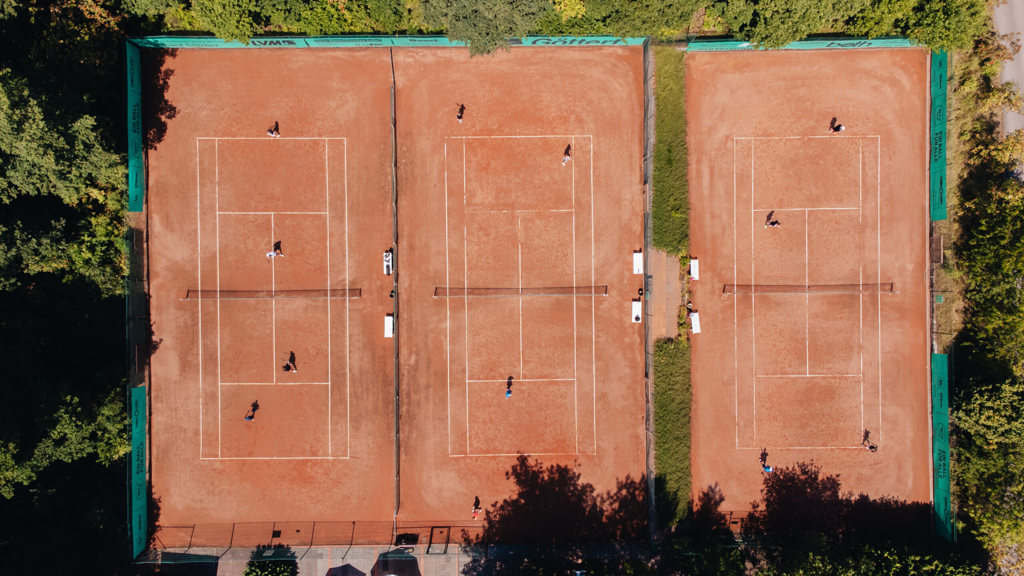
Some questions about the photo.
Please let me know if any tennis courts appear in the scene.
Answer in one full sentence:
Yes, the frame does contain a tennis court.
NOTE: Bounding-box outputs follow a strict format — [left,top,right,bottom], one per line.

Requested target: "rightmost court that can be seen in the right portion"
[687,50,931,537]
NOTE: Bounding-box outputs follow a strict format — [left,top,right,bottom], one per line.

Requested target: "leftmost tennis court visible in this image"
[148,47,397,547]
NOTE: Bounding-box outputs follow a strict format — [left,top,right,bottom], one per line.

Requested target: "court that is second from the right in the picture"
[394,46,648,545]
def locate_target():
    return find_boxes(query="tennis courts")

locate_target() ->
[394,46,648,545]
[687,50,931,537]
[148,47,397,547]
